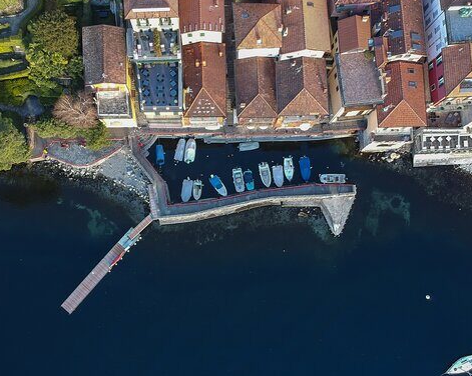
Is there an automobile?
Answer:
No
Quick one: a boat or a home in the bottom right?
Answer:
boat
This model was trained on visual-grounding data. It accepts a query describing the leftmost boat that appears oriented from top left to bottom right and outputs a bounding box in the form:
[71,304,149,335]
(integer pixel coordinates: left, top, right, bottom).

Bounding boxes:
[210,176,226,196]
